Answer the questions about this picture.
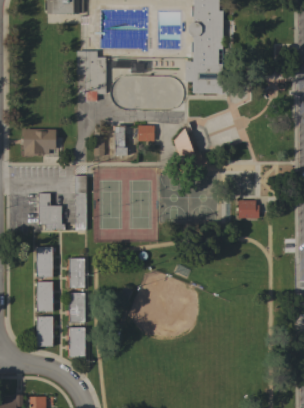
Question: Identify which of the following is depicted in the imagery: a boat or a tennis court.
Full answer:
This aerial view contains a tennis court.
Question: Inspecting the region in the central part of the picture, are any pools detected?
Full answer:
No, there's no pool to be seen in the central part of the picture.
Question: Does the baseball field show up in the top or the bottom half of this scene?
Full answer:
Seen from above, the baseball field lies in the bottom half of the view.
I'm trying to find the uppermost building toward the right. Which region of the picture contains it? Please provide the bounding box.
[187,0,224,94]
